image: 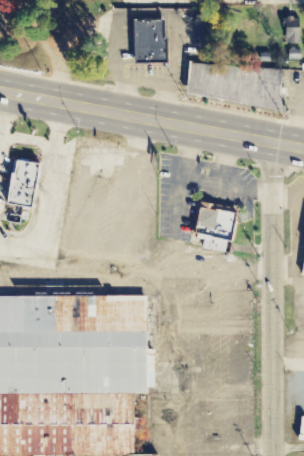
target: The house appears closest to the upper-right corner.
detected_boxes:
[286,16,302,44]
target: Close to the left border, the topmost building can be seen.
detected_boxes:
[8,160,39,206]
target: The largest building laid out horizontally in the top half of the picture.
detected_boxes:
[188,62,284,112]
